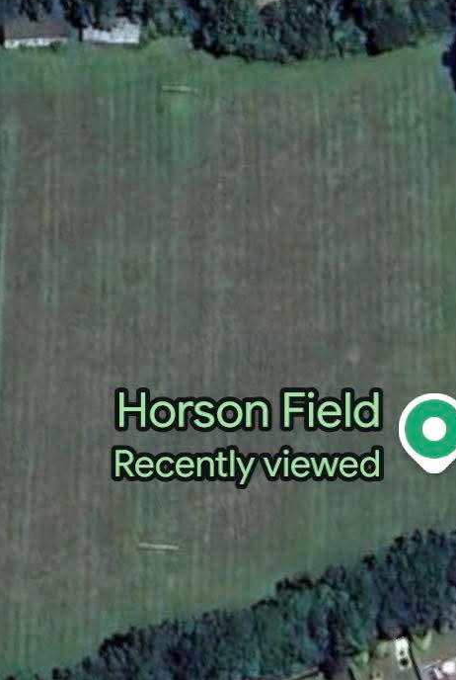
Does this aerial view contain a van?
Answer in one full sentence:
No, no van is visible in the view.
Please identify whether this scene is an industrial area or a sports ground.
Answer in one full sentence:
This image shows a sports ground.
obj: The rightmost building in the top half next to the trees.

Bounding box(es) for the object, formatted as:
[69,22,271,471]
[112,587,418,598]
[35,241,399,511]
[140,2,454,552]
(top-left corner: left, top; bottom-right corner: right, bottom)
[82,19,139,45]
